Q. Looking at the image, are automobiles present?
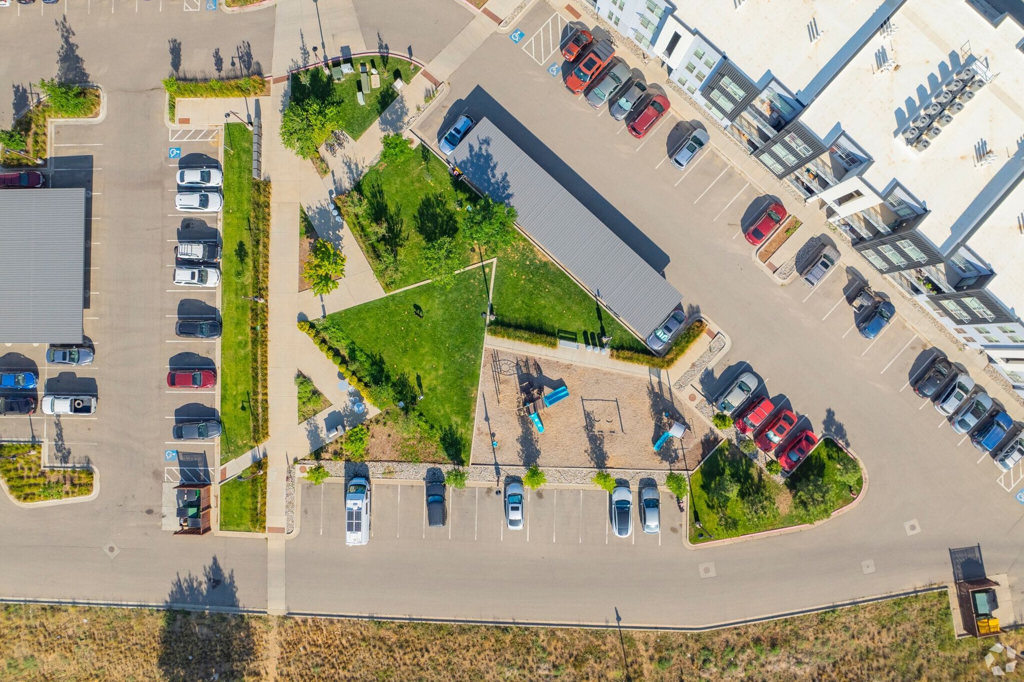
Yes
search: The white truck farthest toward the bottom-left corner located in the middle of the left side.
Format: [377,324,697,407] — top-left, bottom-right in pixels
[42,394,100,417]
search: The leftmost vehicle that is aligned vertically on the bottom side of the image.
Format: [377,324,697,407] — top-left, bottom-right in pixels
[345,478,370,547]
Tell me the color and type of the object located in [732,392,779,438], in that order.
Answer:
red car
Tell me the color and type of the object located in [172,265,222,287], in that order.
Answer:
white car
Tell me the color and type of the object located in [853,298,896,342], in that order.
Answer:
blue car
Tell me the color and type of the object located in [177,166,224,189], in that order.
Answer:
white car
